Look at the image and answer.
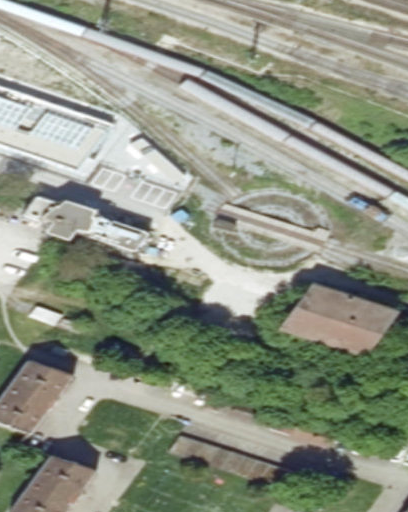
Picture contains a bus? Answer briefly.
Yes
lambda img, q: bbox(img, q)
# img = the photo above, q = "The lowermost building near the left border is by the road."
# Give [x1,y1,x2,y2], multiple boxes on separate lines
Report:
[7,457,95,512]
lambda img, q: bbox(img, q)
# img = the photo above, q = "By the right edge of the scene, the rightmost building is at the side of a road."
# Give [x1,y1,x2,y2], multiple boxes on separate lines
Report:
[281,284,399,358]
